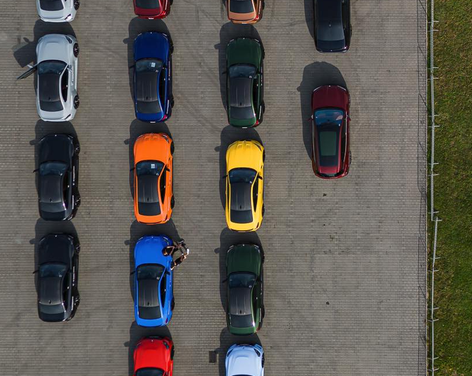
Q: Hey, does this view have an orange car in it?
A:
Yes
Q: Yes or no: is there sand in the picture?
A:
No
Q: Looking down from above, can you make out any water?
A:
No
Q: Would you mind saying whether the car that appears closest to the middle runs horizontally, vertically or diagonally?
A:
vertically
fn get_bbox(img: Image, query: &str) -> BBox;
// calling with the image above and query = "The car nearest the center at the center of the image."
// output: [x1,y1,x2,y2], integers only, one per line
[221,140,266,232]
